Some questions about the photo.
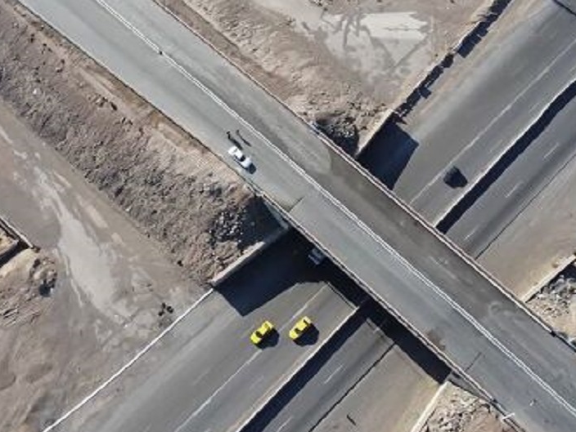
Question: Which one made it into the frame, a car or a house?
car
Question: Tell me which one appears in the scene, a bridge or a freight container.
bridge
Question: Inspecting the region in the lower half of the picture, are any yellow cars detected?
Yes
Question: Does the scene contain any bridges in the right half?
Yes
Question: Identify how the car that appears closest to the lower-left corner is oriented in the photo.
at an angle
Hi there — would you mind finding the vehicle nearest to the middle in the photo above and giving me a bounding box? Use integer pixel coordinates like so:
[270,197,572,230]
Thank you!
[306,247,324,267]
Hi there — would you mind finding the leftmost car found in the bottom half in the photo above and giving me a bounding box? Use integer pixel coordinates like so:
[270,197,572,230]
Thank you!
[250,322,273,345]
